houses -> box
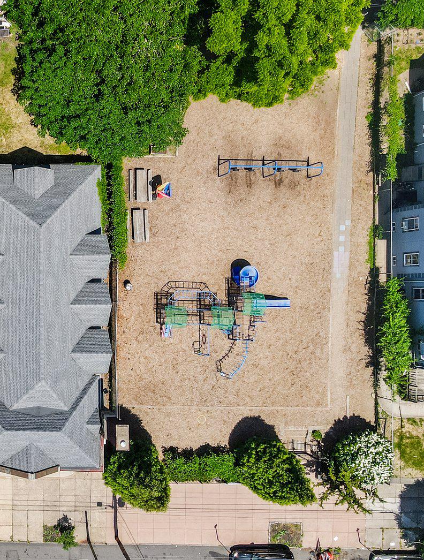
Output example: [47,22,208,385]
[0,160,131,483]
[390,89,424,331]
